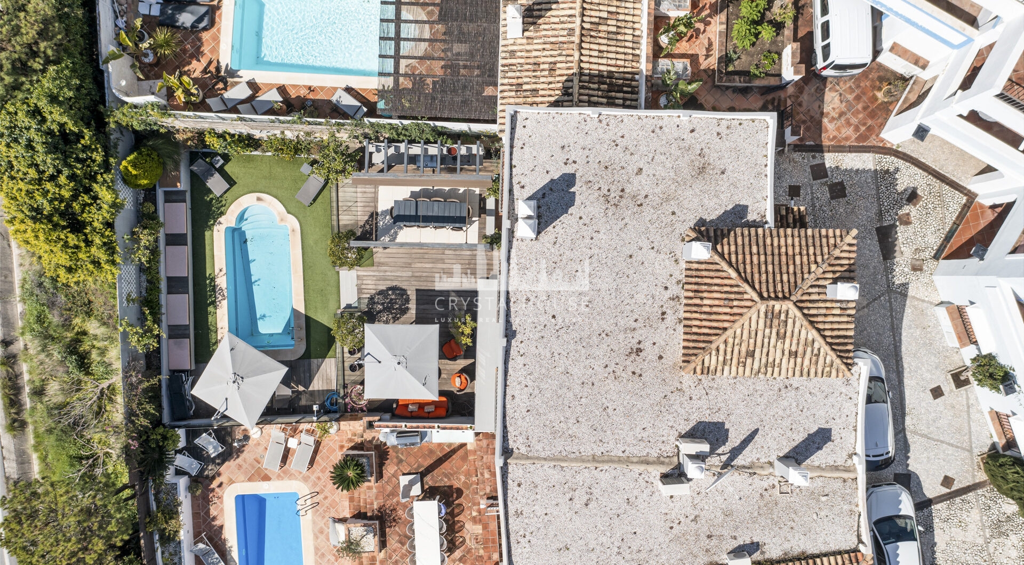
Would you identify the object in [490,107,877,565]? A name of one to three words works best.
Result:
house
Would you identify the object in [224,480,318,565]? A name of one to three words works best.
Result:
swimming pool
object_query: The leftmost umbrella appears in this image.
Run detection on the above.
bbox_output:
[191,333,289,430]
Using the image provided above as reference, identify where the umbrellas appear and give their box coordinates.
[191,333,289,430]
[345,324,439,400]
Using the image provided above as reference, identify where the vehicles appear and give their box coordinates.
[805,0,874,77]
[866,479,928,565]
[853,345,903,474]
